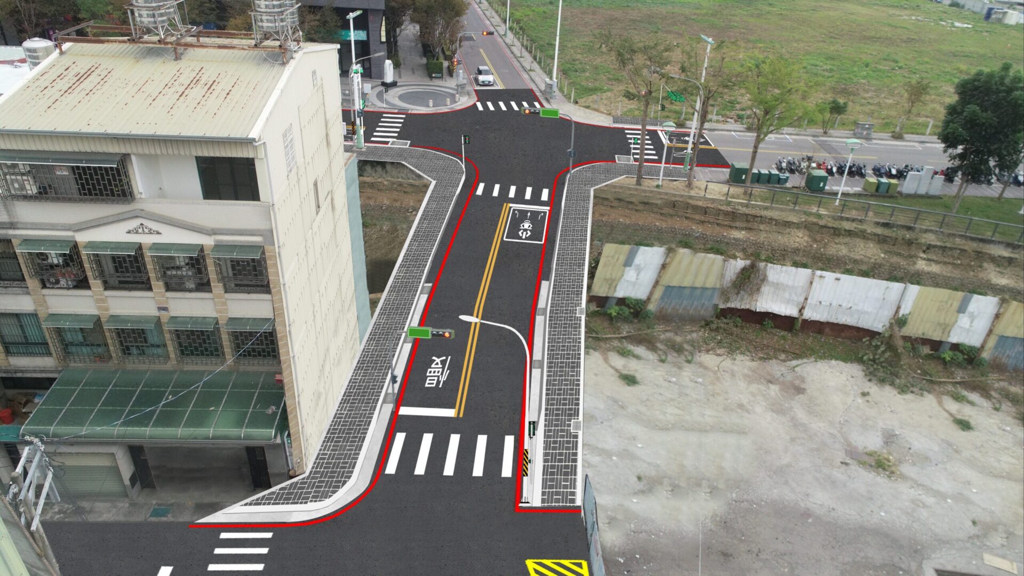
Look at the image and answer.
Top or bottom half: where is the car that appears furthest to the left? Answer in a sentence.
The top half of the photo is where the car that appears furthest to the left is.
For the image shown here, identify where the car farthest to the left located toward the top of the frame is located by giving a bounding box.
[471,64,492,84]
